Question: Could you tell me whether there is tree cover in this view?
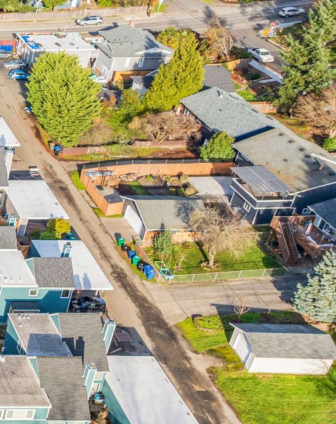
Yes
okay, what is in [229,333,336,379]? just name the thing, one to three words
building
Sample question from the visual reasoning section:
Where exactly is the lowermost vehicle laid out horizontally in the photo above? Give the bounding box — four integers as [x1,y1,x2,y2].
[68,292,110,311]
